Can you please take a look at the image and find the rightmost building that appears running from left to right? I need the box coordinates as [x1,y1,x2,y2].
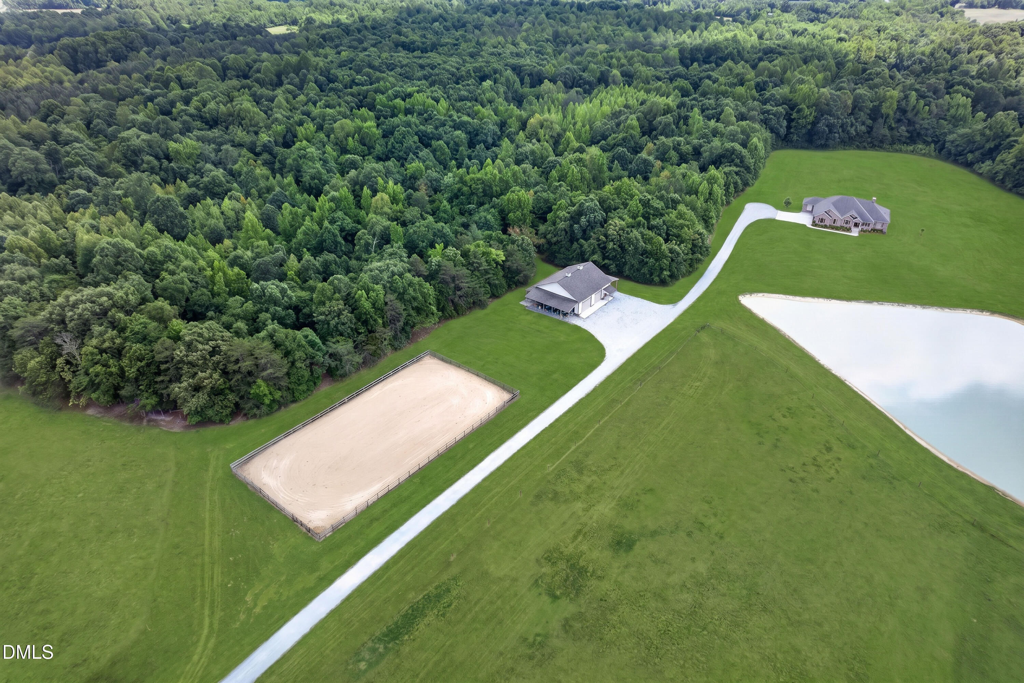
[802,196,891,233]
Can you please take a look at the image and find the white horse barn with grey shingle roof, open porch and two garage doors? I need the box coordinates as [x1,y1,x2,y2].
[525,262,619,321]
